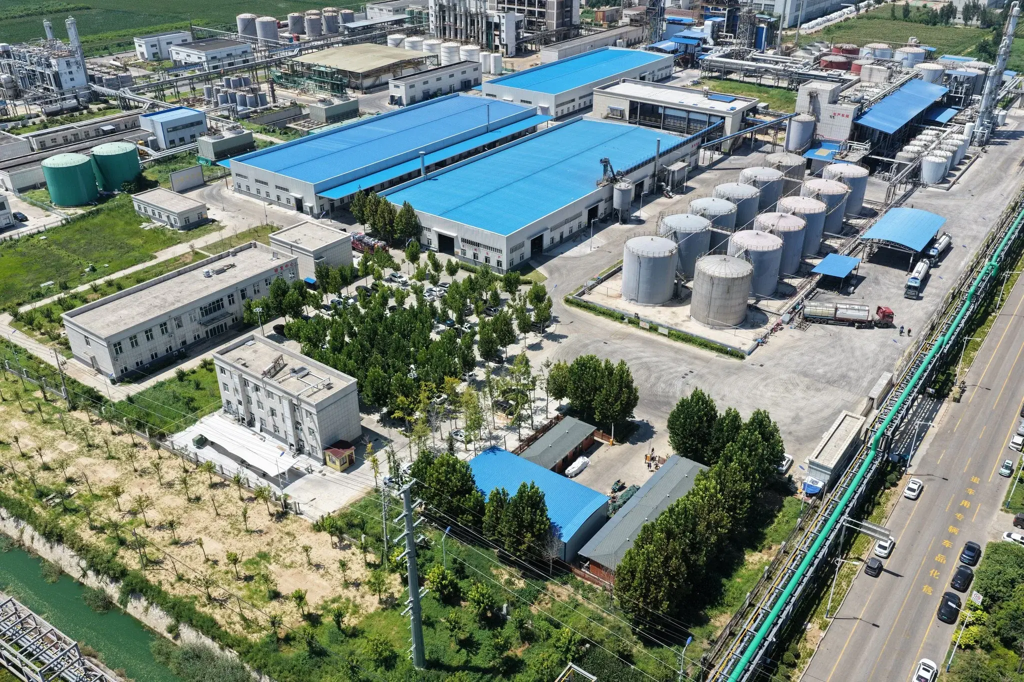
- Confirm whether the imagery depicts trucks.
Yes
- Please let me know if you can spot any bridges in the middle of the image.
No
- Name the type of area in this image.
industrial area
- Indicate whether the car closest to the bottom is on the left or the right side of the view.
right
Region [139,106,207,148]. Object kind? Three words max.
building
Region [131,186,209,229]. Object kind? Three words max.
building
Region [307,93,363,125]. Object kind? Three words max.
cooling tower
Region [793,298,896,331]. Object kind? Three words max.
truck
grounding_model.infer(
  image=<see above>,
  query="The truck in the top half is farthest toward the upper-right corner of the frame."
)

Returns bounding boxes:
[923,227,952,271]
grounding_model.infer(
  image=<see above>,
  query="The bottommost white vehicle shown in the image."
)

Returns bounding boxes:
[913,661,937,682]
